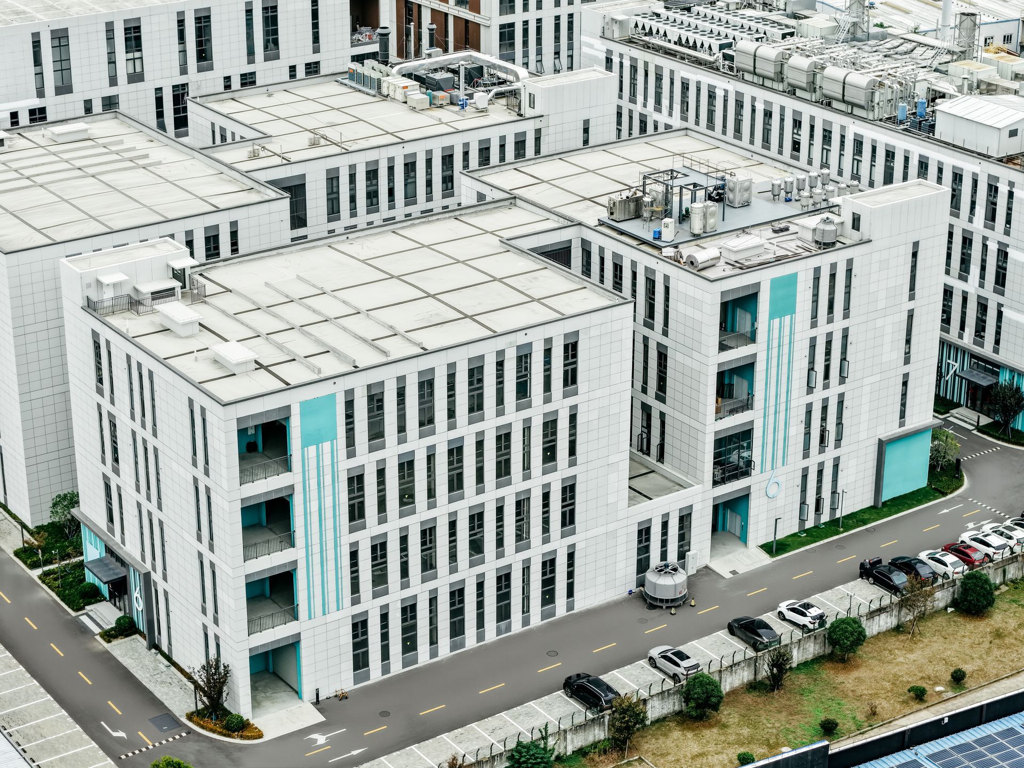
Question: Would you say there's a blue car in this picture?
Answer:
No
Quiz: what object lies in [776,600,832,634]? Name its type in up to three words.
car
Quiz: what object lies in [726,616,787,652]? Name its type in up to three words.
car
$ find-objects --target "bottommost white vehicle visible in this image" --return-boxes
[646,645,705,683]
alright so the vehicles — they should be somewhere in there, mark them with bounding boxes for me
[565,674,626,715]
[890,556,949,588]
[726,616,787,652]
[999,517,1024,530]
[915,548,974,579]
[978,523,1024,552]
[646,645,705,683]
[1016,510,1024,518]
[865,555,926,599]
[776,600,832,634]
[958,530,1019,561]
[937,541,995,569]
